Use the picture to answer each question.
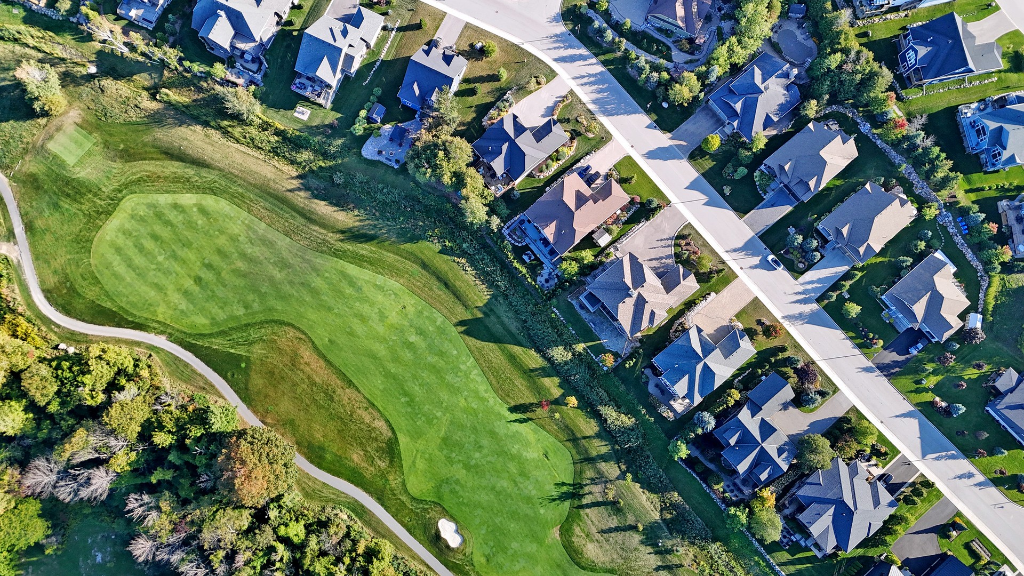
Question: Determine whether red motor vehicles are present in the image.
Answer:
No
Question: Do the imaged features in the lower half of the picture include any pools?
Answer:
No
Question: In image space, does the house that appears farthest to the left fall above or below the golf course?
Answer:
above it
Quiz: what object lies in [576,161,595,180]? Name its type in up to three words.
vehicle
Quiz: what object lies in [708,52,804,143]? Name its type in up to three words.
house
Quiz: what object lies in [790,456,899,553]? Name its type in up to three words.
house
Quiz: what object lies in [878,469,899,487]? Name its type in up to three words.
car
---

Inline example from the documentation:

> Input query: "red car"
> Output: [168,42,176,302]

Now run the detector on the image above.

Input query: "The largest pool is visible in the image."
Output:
[776,27,814,64]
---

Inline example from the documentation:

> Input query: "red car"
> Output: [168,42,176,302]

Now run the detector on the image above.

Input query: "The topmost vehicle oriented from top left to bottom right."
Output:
[765,252,784,272]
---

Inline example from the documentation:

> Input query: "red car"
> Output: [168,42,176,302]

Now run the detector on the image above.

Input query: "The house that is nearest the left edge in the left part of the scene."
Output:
[115,0,170,30]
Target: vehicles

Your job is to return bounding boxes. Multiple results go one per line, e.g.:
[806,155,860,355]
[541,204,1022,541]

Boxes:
[583,168,604,187]
[576,161,595,180]
[907,336,931,356]
[878,469,899,487]
[765,252,784,272]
